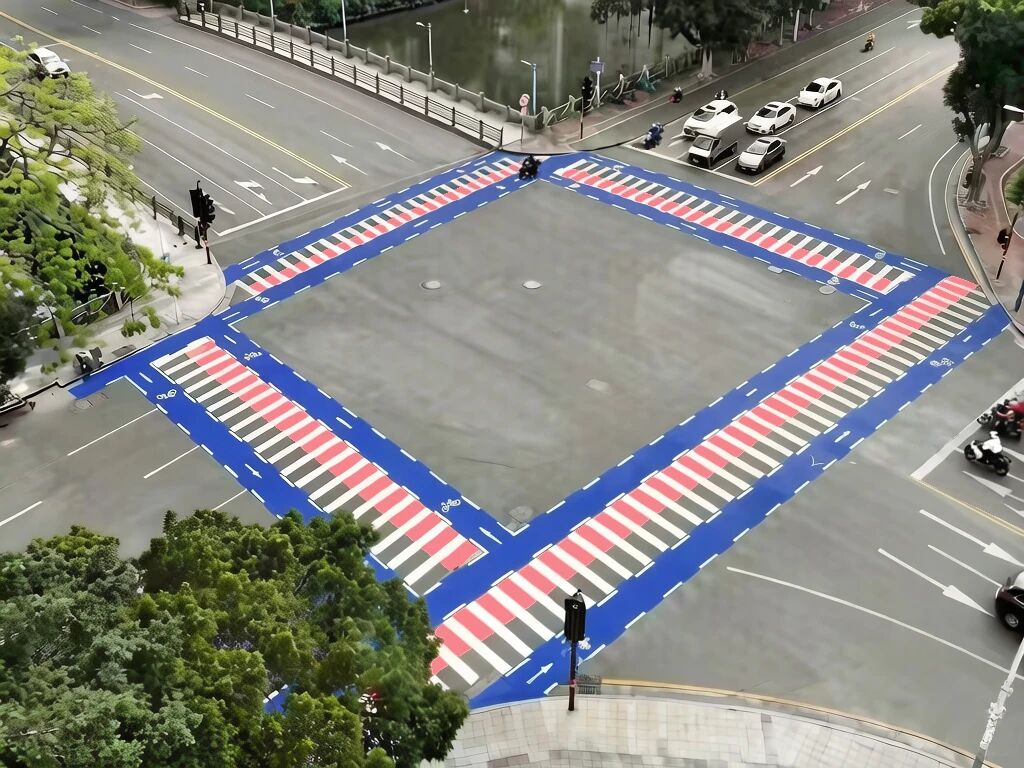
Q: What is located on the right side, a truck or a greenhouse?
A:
truck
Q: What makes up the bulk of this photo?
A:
paved ground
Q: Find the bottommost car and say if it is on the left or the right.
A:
right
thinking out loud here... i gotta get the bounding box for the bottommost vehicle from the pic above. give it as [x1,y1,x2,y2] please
[992,579,1024,626]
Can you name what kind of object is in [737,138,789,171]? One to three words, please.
car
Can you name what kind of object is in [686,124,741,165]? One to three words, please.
truck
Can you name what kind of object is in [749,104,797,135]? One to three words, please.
car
